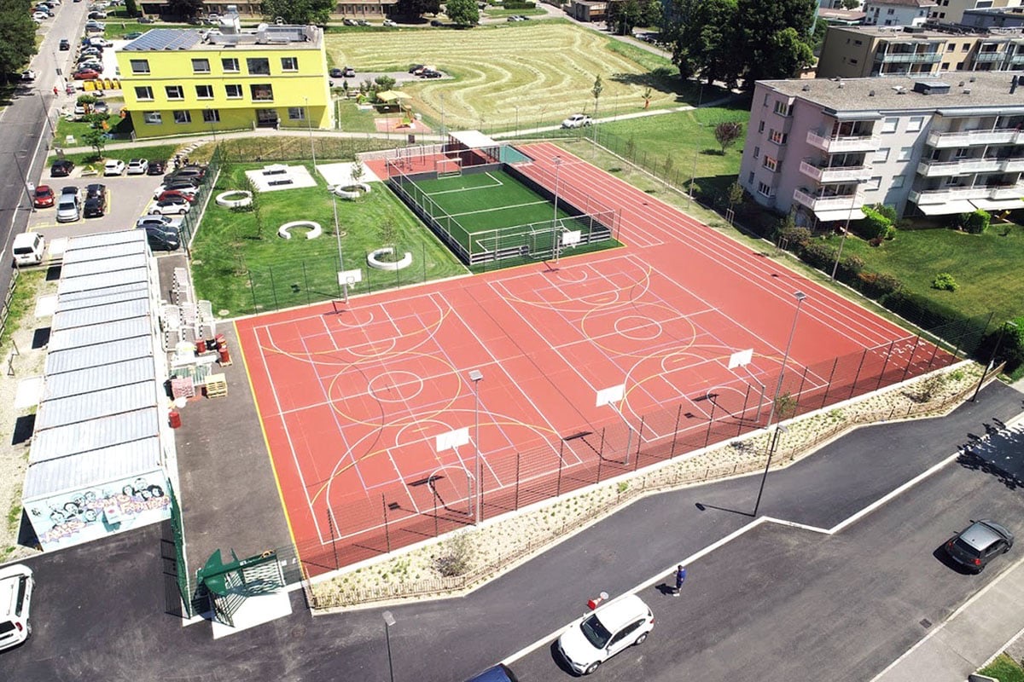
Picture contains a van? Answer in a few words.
Yes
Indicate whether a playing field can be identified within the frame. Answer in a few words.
Yes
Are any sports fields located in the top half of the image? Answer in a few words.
Yes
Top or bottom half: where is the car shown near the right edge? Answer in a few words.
bottom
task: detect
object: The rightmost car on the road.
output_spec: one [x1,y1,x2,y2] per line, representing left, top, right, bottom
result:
[941,516,1013,573]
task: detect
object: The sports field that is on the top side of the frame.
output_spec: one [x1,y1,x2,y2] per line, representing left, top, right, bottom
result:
[386,165,627,274]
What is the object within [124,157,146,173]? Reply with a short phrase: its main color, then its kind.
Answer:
white car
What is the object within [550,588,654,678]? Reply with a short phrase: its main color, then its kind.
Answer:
white car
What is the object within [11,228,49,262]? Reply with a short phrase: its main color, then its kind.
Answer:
white van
